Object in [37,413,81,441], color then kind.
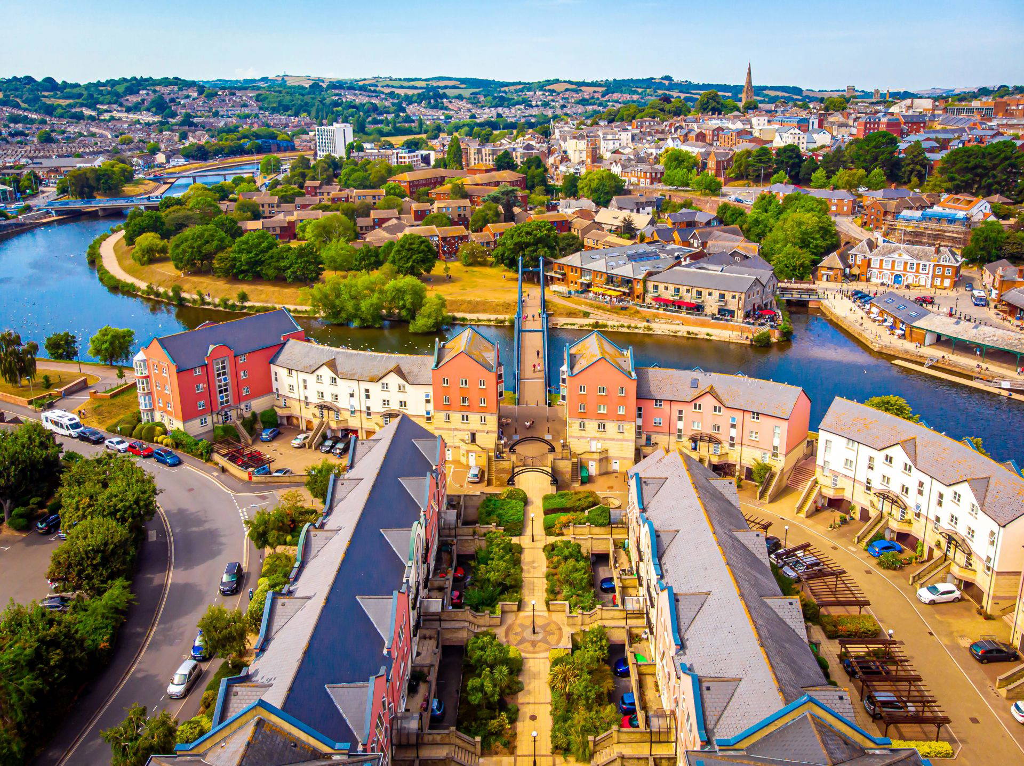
white camper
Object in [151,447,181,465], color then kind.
blue car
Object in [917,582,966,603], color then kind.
white car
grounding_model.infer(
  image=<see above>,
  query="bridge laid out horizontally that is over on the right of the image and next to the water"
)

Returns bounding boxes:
[784,281,835,299]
